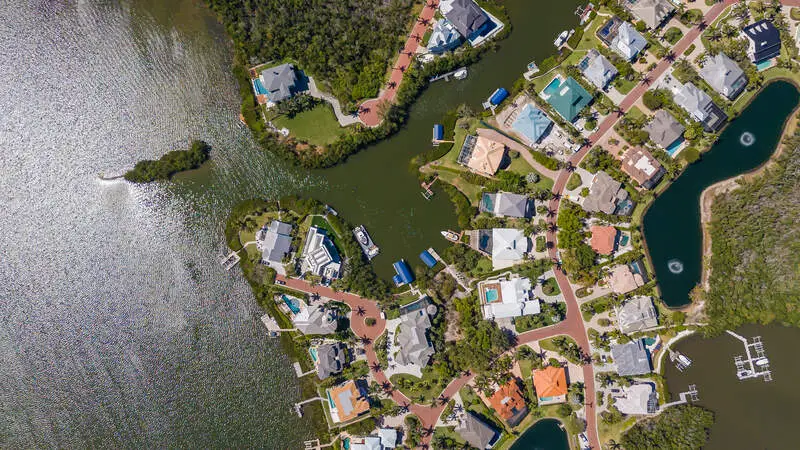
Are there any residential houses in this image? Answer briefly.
Yes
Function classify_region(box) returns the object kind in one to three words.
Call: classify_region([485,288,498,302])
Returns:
swimming pool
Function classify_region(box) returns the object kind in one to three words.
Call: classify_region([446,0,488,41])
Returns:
house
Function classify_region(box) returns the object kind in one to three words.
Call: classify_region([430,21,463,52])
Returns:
house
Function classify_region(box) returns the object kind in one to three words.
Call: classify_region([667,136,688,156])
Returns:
swimming pool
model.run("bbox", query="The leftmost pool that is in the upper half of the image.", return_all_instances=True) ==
[254,77,269,97]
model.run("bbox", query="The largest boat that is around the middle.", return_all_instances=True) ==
[354,227,379,259]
